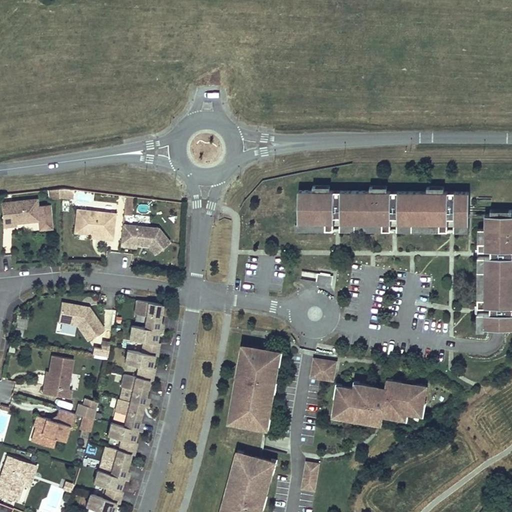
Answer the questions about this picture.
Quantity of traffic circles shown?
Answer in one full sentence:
In total, 2 traffic circles can be seen.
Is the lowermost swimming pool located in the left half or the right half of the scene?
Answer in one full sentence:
It is on the left.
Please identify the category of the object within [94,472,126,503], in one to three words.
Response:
house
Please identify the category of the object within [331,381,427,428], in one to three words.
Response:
building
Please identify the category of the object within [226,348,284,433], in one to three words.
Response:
building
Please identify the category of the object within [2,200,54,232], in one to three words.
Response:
house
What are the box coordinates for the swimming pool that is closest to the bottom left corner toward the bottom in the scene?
[38,484,64,512]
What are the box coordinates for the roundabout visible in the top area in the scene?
[169,111,244,186]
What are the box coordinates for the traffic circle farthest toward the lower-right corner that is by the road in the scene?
[290,288,340,338]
